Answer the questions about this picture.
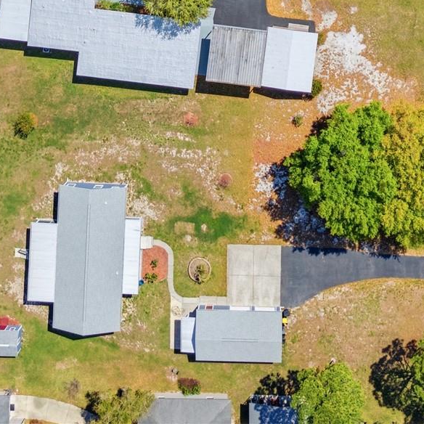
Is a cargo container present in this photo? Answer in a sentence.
No, the frame has no cargo container in it.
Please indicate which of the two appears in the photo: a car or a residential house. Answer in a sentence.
There is a residential house in the scene.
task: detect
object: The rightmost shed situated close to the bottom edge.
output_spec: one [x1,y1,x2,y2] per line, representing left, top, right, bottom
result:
[249,395,298,424]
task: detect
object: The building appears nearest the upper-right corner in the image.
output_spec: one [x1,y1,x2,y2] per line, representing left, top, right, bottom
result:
[261,26,317,93]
